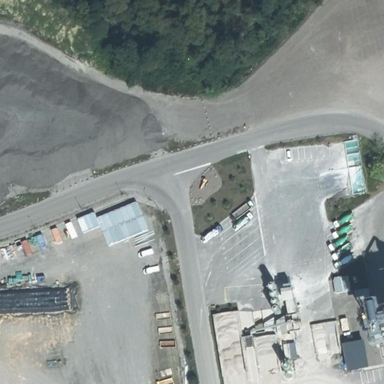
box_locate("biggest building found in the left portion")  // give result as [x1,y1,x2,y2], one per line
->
[96,202,148,246]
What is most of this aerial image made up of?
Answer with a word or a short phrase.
paved ground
